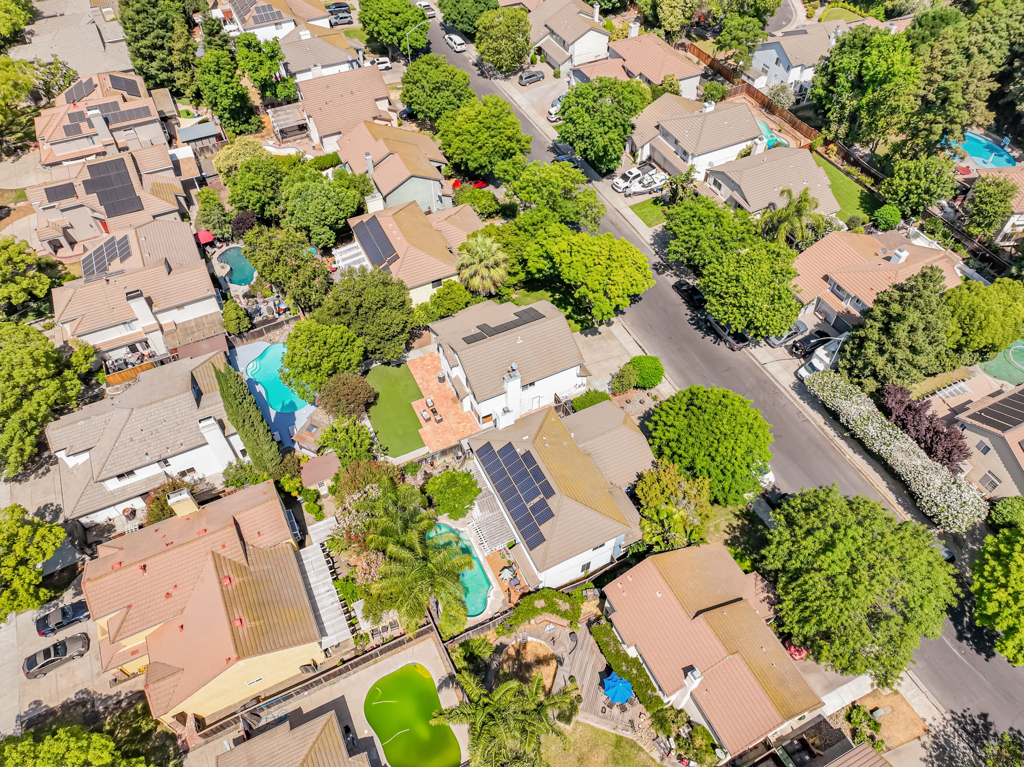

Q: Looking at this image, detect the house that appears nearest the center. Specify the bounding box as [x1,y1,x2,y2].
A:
[428,300,592,427]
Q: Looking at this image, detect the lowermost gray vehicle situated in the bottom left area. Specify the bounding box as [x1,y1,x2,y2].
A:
[22,632,88,679]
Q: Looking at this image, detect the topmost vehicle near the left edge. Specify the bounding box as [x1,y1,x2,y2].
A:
[33,599,92,636]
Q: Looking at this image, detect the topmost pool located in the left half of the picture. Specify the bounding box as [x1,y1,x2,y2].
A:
[265,144,316,170]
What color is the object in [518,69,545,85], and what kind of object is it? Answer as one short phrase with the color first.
gray car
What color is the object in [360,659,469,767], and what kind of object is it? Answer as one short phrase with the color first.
green swimming pool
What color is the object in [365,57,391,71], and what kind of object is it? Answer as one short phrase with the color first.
white car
